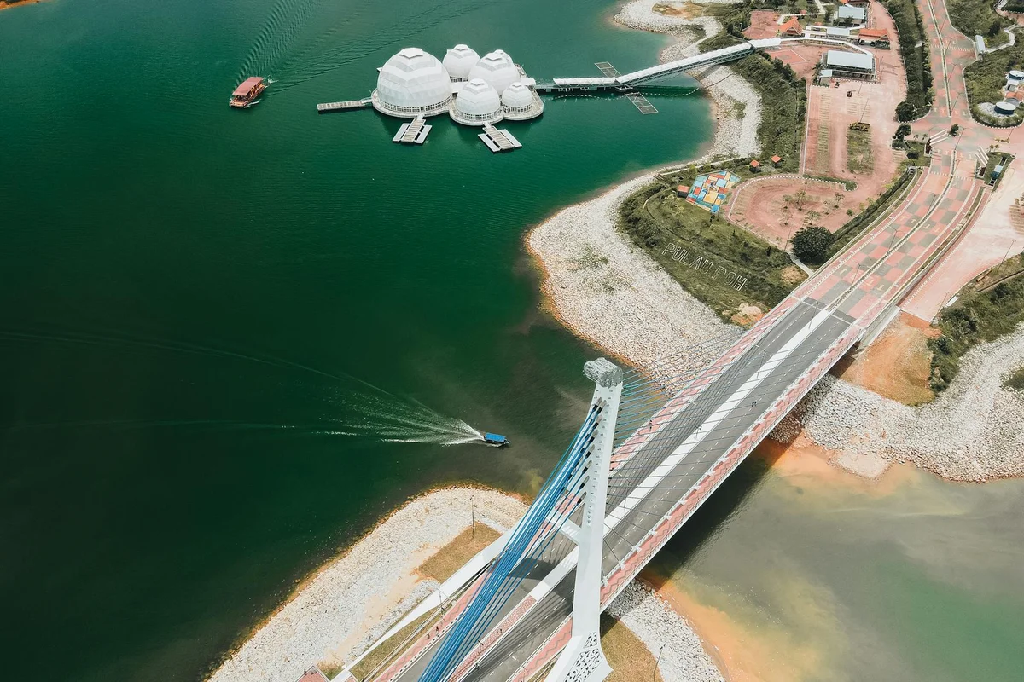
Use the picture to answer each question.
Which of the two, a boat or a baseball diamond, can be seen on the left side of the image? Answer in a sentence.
The one visible on the left side of the image is a boat.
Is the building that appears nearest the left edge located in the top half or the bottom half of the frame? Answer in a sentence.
Seen from above, the building that appears nearest the left edge lies in the top half of the view.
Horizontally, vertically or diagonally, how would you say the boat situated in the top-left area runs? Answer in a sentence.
The boat situated in the top-left area has been laid out diagonally relative to the frame.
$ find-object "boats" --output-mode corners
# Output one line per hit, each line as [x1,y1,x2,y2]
[484,434,510,446]
[233,79,265,105]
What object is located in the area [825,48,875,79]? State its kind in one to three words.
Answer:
building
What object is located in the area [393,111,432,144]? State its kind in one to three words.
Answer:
pier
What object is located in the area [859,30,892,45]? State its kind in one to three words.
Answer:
building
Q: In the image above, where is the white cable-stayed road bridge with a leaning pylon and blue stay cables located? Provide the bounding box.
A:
[356,292,865,682]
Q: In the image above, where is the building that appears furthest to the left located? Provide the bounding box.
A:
[370,43,545,128]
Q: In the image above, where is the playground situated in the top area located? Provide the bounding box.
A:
[687,165,741,216]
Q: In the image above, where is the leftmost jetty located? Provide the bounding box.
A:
[317,96,376,111]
